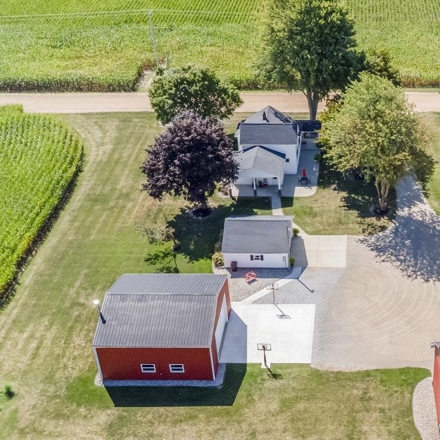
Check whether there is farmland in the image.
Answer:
Yes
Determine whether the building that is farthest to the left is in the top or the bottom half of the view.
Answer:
bottom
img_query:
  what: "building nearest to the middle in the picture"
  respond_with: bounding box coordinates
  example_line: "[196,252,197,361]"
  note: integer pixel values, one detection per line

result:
[220,216,294,268]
